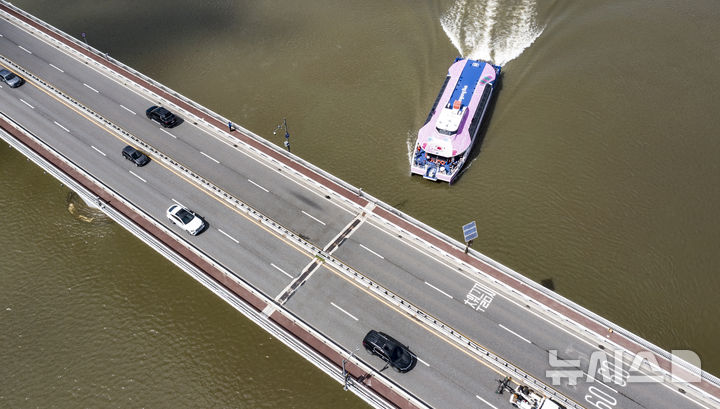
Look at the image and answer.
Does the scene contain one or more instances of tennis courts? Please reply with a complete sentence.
No, the picture doesn't show any tennis court.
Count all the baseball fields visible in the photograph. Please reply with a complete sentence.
No baseball fields are visible.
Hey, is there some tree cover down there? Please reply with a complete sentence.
No, there's no tree cover in this view.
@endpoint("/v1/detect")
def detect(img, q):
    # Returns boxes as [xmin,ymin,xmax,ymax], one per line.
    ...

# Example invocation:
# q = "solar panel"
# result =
[463,220,477,252]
